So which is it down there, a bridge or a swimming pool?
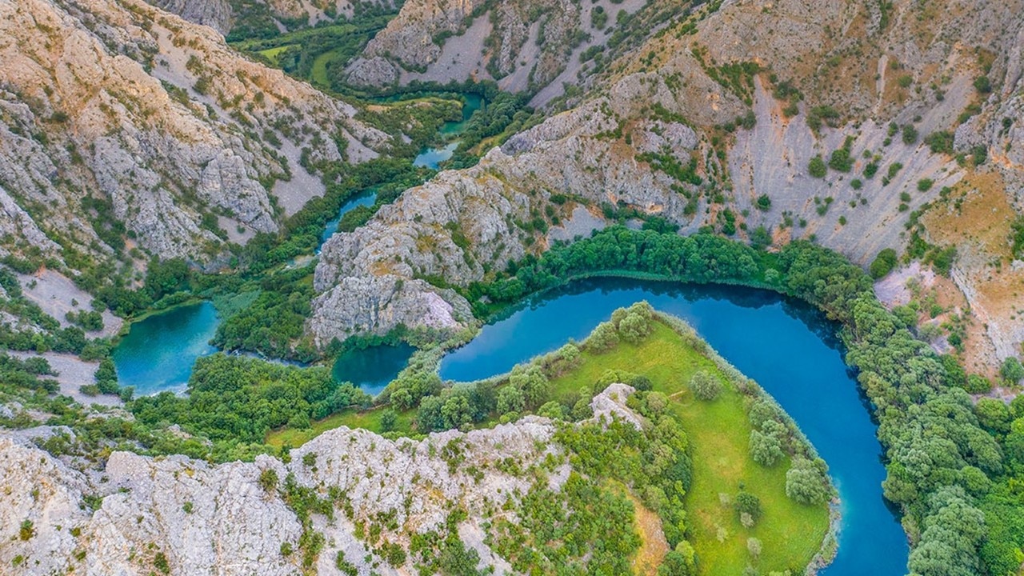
swimming pool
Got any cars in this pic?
No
